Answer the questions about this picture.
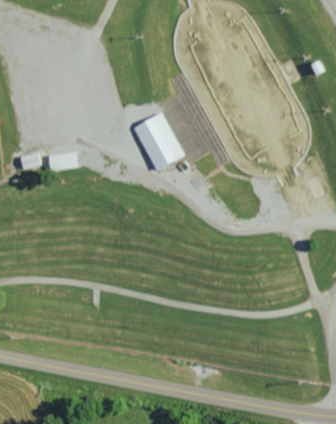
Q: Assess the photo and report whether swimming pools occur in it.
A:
No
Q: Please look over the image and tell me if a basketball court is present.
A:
No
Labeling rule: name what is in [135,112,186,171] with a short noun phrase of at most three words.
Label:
building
